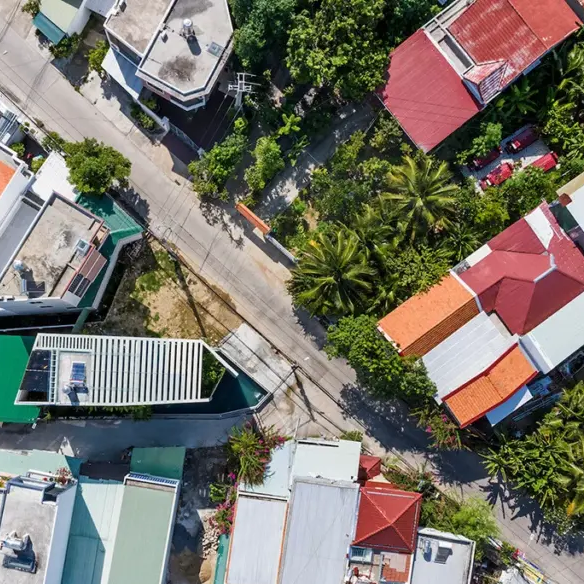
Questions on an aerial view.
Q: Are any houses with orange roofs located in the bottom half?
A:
Yes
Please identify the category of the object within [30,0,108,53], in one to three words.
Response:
house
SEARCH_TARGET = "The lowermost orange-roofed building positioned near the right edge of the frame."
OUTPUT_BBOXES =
[432,342,560,433]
